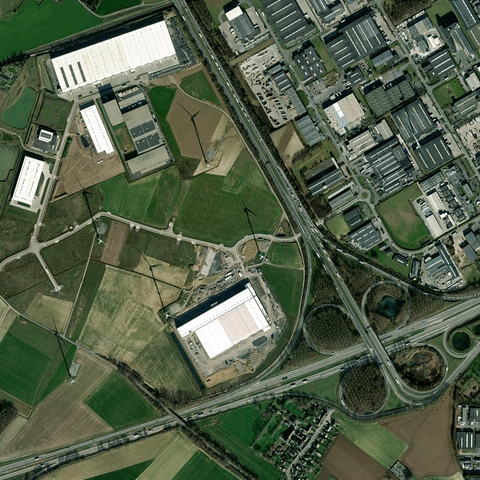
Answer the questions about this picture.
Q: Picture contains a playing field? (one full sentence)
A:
Yes, a playing field can be made out from above.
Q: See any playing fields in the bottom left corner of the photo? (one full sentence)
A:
No, there's no playing field to be seen in the bottom left corner of the photo.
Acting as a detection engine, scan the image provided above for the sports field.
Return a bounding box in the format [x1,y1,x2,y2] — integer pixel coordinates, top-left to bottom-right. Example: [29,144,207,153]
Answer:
[375,187,432,250]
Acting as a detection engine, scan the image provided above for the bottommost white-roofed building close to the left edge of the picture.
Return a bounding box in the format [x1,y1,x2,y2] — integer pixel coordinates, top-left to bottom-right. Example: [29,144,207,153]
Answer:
[10,156,45,208]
